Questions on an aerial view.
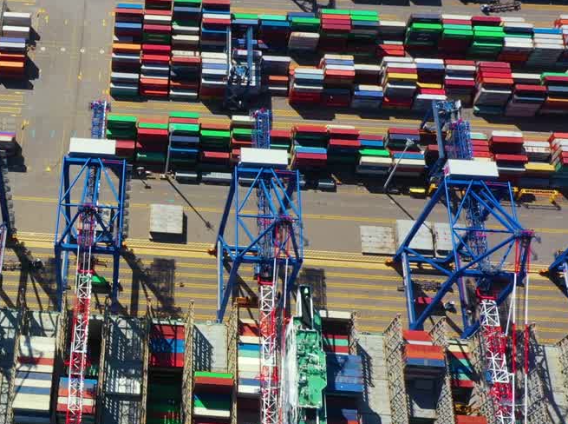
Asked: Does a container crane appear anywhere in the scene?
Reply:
Yes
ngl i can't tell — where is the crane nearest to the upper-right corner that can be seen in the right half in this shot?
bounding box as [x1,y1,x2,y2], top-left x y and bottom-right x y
[415,103,465,190]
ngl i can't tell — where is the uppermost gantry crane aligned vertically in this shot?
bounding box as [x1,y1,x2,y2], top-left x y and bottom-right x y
[216,29,251,115]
